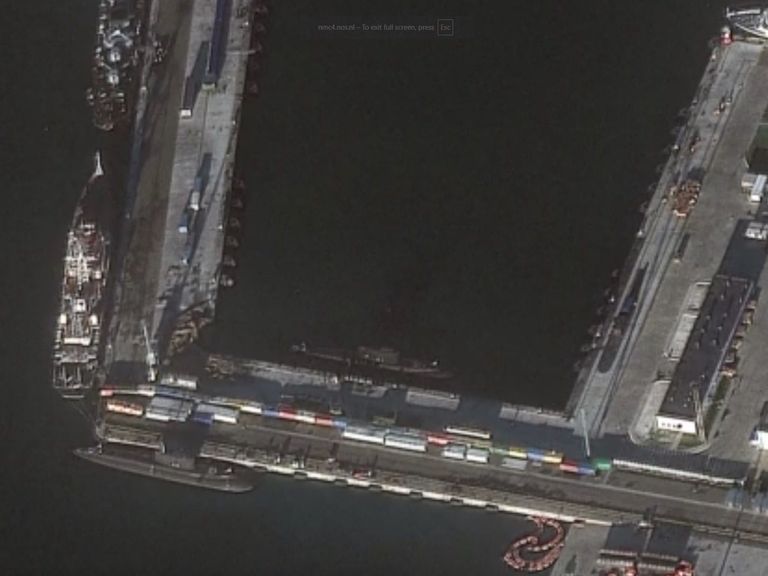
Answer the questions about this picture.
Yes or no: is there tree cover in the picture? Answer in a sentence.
No, no tree cover is visible.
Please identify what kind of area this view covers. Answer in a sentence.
What you see here is a port.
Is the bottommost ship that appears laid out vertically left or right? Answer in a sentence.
The bottommost ship that appears laid out vertically is on the left side of the image.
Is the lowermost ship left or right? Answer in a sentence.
The lowermost ship is on the left side of the image.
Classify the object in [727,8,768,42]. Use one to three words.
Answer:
ship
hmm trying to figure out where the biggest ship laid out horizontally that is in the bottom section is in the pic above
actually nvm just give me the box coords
[75,445,254,496]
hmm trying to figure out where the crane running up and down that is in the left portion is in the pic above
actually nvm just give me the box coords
[138,320,160,386]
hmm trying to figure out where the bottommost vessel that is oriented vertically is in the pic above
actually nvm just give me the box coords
[53,152,113,406]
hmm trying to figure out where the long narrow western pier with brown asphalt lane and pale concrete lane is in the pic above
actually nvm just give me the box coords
[105,0,252,385]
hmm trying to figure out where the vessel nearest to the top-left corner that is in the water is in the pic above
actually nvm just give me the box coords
[92,0,136,134]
